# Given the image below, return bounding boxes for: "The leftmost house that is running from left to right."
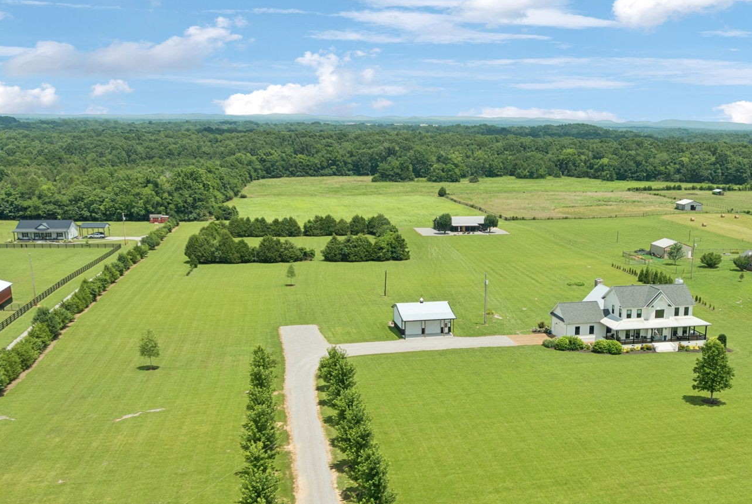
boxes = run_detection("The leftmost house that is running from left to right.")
[12,220,78,240]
